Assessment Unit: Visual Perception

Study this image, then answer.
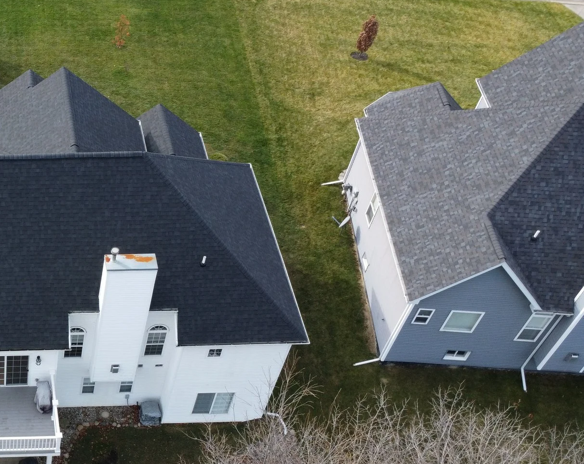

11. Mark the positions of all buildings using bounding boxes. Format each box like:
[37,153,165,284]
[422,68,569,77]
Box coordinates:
[343,26,584,387]
[0,66,313,424]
